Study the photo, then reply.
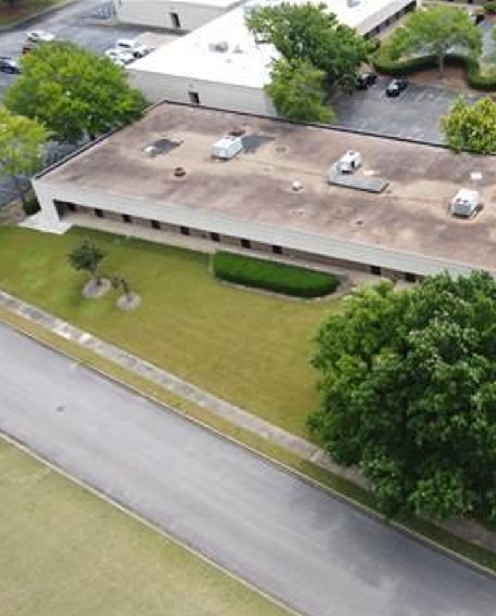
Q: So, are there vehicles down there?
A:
Yes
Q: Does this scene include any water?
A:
No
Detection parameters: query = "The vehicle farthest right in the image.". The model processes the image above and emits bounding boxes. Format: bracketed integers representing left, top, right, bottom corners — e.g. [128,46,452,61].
[384,82,408,100]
